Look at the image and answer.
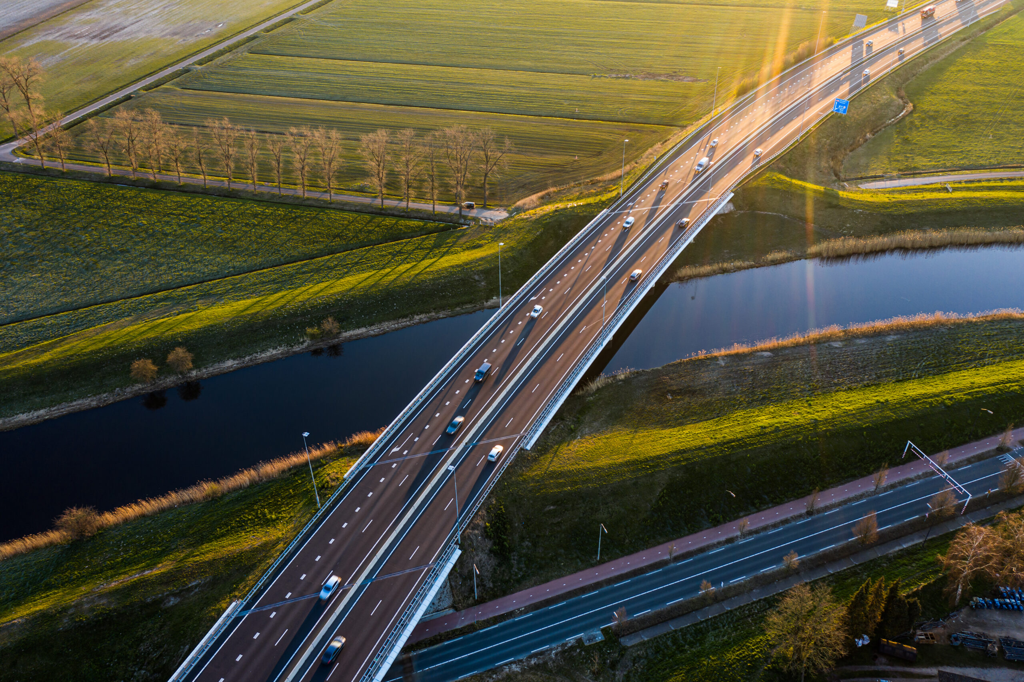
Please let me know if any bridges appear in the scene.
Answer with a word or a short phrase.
Yes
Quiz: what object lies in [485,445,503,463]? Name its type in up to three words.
car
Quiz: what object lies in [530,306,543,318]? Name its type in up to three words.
vehicle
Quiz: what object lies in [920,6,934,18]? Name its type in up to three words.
vehicle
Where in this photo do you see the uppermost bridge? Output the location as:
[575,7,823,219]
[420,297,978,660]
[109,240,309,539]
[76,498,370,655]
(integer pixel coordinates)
[350,195,730,470]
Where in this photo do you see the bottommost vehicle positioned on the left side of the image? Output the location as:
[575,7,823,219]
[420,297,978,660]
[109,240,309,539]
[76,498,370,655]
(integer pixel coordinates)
[320,636,348,667]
